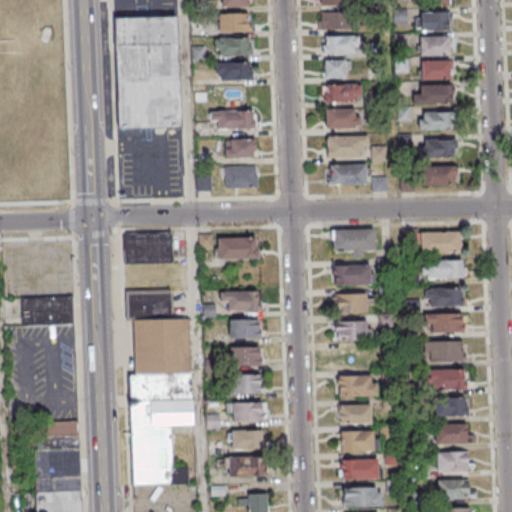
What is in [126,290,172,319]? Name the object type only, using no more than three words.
building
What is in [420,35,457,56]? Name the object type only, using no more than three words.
house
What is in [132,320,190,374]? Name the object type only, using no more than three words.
building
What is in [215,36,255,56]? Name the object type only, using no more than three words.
house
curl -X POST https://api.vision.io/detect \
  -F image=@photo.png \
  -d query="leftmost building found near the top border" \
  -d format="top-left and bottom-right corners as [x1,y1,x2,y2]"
[115,16,181,127]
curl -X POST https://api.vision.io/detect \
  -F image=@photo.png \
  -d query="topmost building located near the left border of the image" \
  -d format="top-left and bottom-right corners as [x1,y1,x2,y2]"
[21,296,72,324]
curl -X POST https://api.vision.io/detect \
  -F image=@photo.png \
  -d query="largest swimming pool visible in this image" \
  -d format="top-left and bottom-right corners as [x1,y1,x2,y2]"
[224,88,243,100]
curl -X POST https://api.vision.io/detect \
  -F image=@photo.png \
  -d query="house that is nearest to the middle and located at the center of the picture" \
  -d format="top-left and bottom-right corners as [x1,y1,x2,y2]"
[217,237,262,259]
